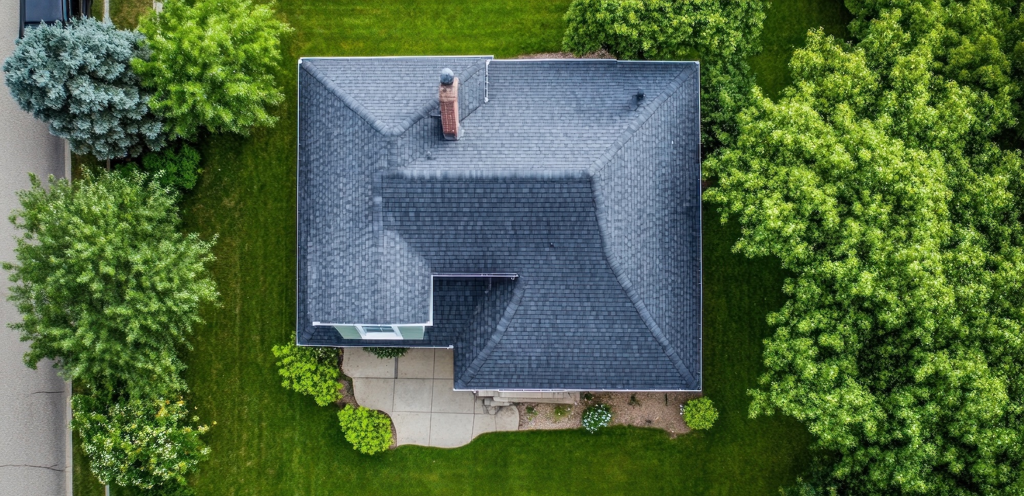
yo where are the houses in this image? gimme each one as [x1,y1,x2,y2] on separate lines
[295,56,704,394]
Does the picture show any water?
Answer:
No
